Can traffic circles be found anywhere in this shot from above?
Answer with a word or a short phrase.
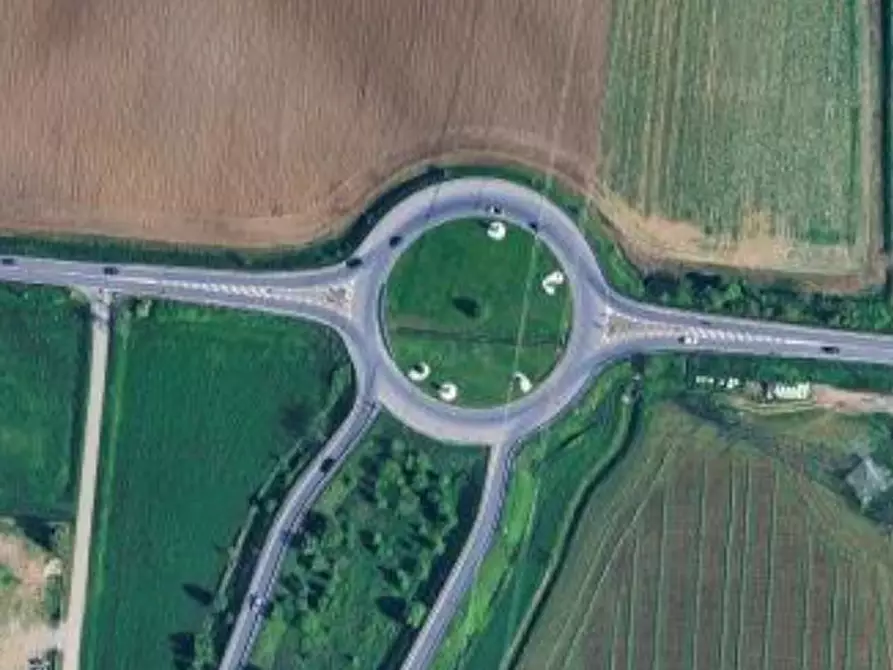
Yes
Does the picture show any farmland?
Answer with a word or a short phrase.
Yes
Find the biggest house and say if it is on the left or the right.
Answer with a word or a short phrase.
right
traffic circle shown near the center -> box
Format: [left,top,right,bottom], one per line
[272,176,683,448]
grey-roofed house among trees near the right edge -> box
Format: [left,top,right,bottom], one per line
[849,461,887,500]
